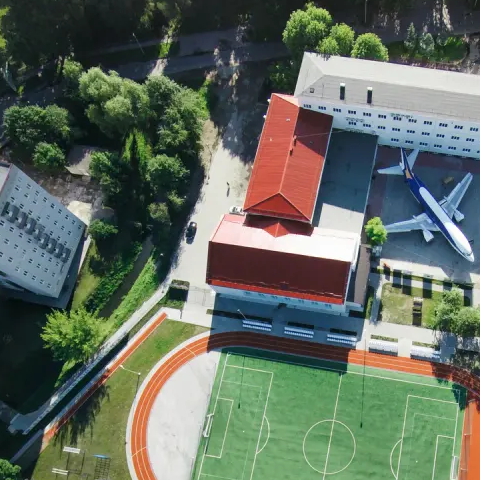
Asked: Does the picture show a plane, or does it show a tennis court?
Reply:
plane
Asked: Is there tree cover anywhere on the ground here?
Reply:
Yes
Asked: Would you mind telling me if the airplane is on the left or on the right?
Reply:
right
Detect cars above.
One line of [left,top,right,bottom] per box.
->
[227,203,244,215]
[184,221,197,240]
